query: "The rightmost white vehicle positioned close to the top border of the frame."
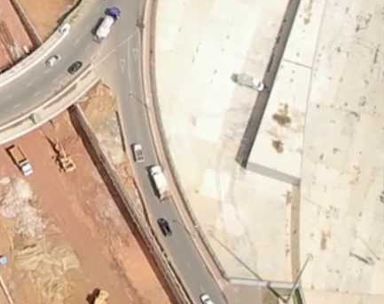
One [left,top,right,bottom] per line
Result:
[95,7,118,39]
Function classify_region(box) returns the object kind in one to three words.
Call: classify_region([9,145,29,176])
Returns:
vehicle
